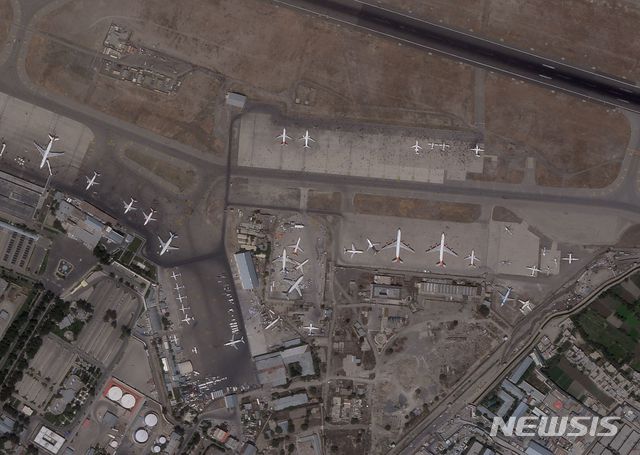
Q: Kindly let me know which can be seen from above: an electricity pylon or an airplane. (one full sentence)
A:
This aerial view contains an airplane.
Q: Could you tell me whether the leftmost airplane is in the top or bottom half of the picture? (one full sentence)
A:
It is in the top half that the leftmost airplane appears.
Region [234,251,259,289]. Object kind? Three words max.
hangar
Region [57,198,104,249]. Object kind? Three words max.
building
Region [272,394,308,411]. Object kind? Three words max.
building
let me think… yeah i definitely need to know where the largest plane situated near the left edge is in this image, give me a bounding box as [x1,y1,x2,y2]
[32,136,62,168]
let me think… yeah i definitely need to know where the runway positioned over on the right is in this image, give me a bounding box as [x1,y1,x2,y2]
[269,0,640,112]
